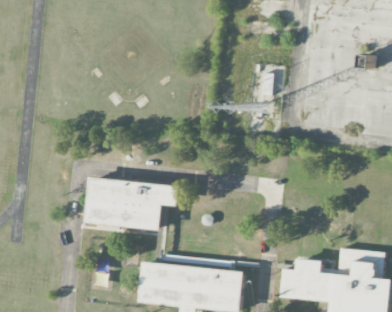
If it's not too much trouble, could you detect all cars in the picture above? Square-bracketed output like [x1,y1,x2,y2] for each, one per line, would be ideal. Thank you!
[261,241,266,252]
[146,161,158,166]
[61,232,68,244]
[72,201,78,213]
